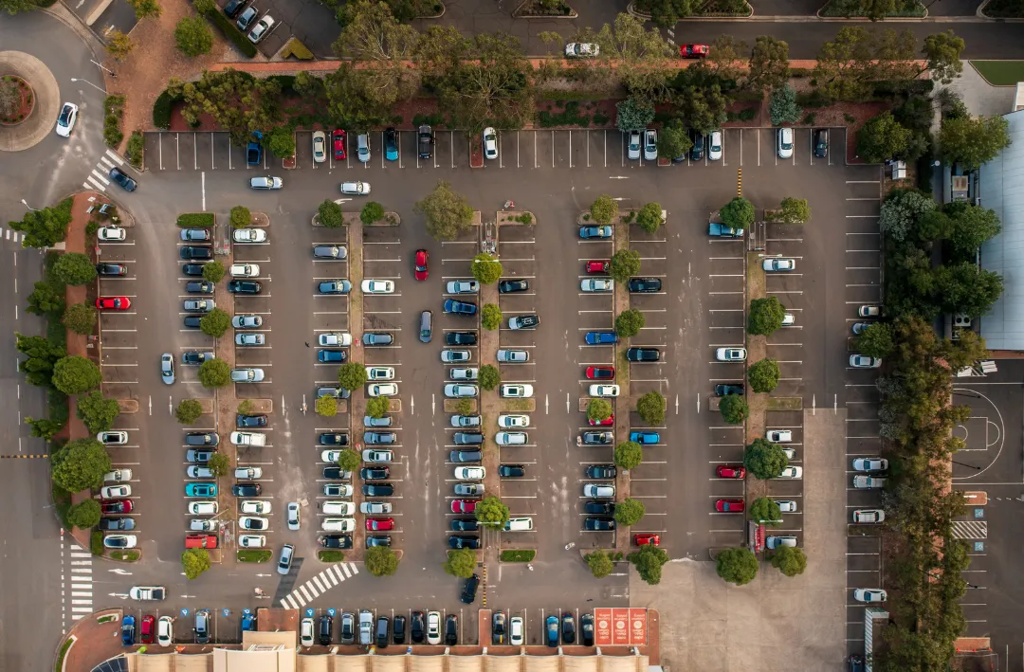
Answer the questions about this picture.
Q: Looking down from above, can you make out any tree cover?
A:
Yes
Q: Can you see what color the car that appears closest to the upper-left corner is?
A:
white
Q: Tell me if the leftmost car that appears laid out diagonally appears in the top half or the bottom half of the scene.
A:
top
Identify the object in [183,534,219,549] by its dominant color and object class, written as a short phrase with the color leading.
red vehicle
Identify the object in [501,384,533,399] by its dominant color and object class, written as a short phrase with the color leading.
white car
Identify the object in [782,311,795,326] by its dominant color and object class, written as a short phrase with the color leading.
white vehicle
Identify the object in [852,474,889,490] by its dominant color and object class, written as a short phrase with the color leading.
gray vehicle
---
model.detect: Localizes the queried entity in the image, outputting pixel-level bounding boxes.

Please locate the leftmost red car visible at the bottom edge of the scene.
[139,614,156,644]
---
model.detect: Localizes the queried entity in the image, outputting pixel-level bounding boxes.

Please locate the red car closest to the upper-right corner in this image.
[680,42,710,58]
